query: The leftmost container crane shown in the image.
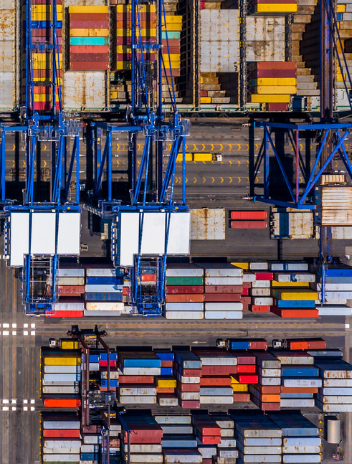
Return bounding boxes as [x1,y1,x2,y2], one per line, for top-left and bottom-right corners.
[0,0,82,315]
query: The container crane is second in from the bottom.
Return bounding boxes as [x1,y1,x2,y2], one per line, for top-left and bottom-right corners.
[66,328,113,429]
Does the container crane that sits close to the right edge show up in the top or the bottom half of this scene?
top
